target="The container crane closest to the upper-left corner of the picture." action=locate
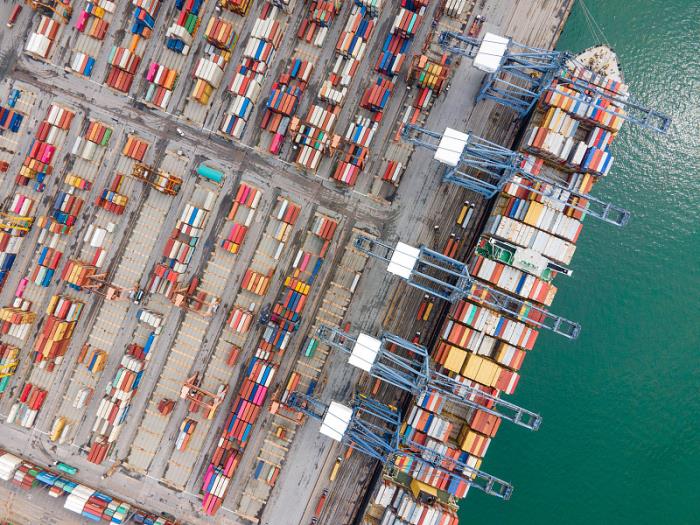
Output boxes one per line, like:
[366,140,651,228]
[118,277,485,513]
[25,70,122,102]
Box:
[24,0,83,39]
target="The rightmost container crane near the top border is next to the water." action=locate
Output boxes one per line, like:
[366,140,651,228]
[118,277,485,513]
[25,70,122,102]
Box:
[437,18,669,129]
